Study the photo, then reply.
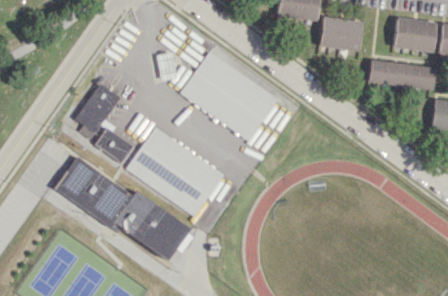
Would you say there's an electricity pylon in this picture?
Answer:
No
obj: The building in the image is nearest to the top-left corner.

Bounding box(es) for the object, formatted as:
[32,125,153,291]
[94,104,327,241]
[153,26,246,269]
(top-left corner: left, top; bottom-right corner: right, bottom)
[78,85,120,137]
